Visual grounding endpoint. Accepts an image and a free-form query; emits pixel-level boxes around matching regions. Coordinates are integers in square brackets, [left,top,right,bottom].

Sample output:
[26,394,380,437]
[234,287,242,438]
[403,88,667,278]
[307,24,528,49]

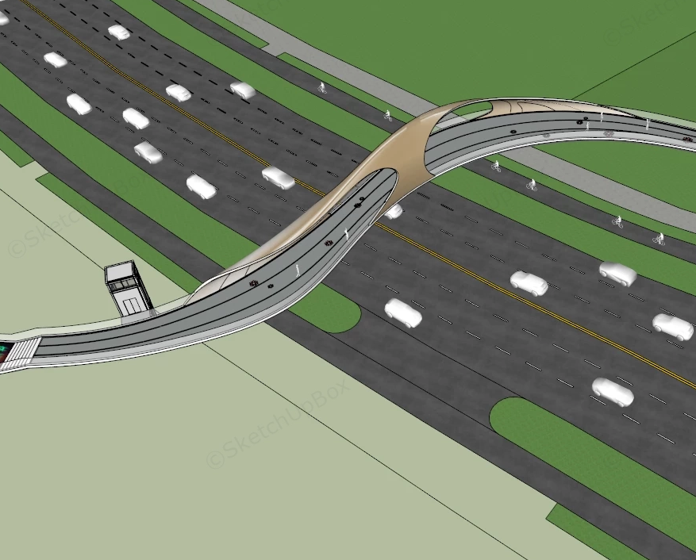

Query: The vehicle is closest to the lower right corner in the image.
[593,379,634,409]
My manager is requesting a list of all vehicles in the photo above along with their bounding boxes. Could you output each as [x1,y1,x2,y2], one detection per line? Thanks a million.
[510,271,548,295]
[230,82,257,99]
[593,379,634,409]
[44,50,66,69]
[66,93,92,113]
[135,142,162,163]
[600,263,639,287]
[187,175,216,199]
[109,24,130,40]
[123,108,149,129]
[263,167,294,189]
[0,13,8,24]
[653,314,695,342]
[385,299,422,328]
[166,85,191,101]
